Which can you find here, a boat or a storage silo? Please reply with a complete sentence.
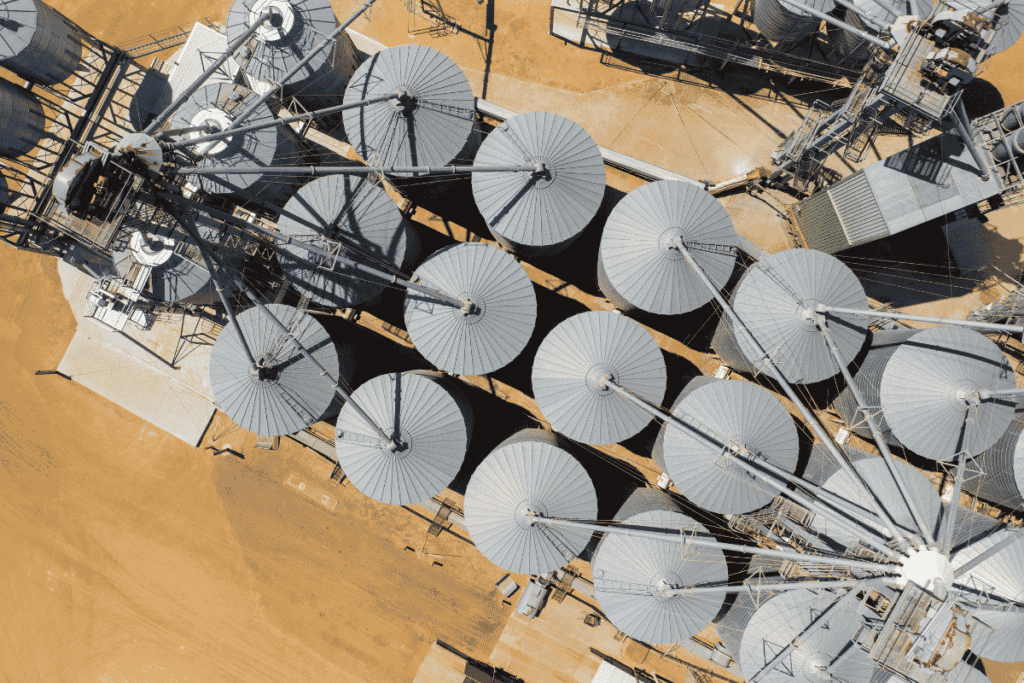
The one in the frame is a storage silo.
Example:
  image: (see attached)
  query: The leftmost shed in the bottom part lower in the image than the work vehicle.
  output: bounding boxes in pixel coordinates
[586,645,665,683]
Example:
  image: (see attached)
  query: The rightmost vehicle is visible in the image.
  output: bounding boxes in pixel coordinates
[575,612,604,633]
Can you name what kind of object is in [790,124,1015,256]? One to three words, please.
shed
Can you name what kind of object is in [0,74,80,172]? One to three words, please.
silo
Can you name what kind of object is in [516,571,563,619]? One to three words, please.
storage tank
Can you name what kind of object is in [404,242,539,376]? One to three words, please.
silo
